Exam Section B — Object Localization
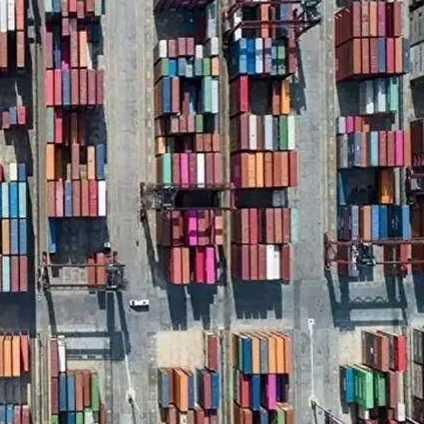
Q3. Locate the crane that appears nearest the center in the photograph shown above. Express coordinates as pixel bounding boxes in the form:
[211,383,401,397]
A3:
[140,179,240,215]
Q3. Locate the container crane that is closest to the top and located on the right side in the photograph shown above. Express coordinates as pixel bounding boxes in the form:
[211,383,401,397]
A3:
[218,0,323,44]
